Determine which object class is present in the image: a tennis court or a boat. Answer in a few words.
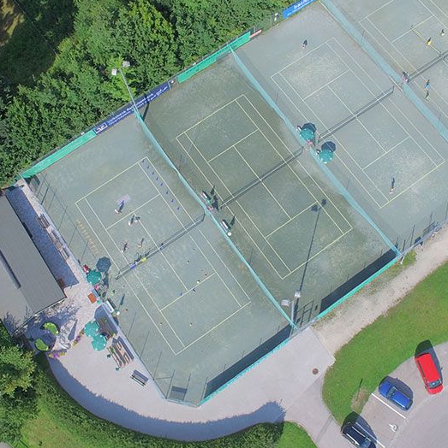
tennis court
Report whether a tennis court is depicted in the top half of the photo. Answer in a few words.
Yes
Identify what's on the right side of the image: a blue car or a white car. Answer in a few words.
blue car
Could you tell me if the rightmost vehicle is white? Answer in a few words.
No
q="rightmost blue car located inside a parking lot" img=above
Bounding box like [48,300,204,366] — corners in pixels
[377,379,414,412]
